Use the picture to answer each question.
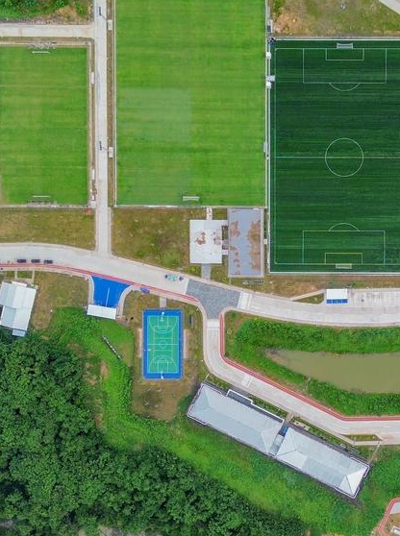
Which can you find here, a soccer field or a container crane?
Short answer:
soccer field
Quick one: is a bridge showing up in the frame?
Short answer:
No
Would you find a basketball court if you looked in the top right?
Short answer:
No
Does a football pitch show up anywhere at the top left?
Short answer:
Yes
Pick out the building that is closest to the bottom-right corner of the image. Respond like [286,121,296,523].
[276,426,371,500]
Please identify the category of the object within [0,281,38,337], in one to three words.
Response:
building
